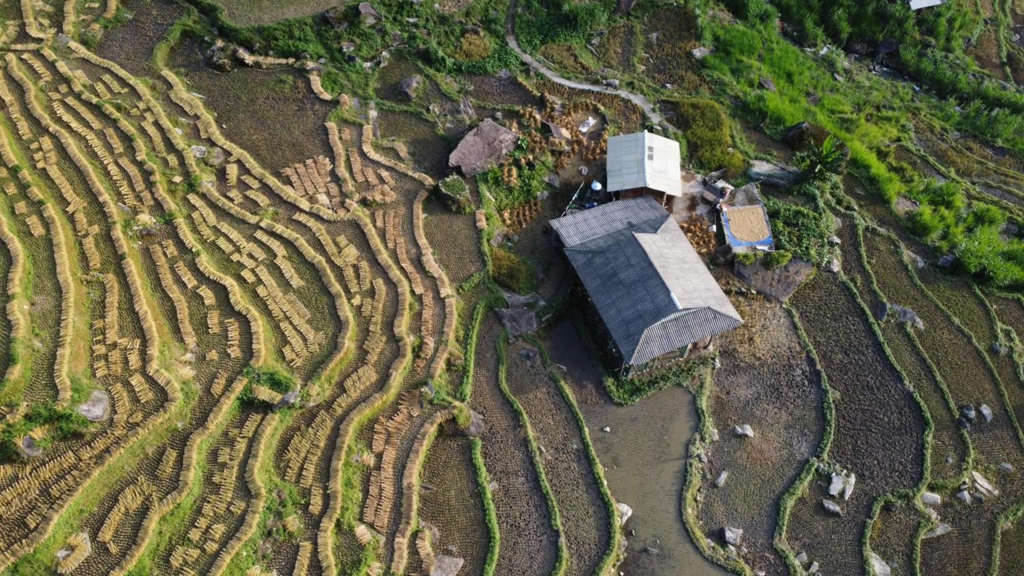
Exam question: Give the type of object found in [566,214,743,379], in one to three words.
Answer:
house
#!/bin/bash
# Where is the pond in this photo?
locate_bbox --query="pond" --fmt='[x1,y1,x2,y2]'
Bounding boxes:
[548,322,734,576]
